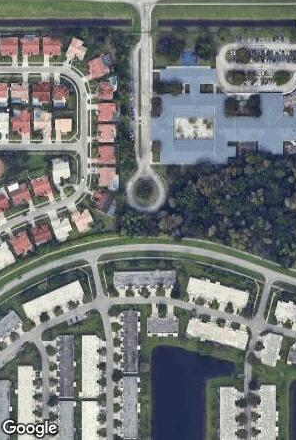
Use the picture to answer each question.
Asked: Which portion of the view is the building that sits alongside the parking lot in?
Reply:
top right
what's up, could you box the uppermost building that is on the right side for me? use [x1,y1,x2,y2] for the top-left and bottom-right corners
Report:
[150,69,296,165]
